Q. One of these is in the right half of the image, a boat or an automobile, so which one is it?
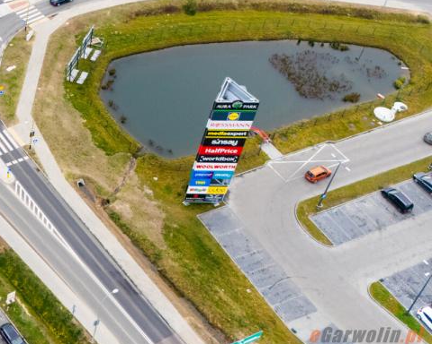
automobile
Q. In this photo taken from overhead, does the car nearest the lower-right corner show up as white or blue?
white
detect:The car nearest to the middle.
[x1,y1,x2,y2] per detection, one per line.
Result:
[301,165,334,185]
